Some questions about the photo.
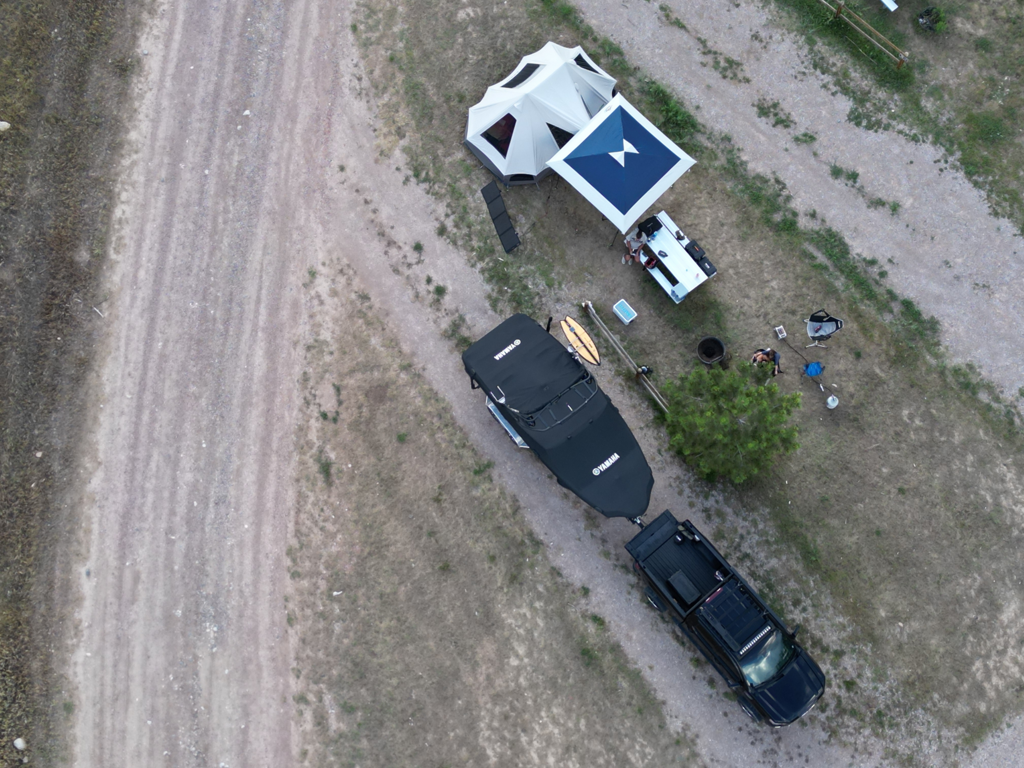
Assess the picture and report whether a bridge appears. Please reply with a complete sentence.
No, there appears to be no bridge in this shot.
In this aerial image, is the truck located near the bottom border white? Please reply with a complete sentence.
No, the color of the truck located near the bottom border is black.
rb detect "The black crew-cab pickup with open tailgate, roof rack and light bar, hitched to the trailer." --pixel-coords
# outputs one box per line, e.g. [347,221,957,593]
[625,509,827,736]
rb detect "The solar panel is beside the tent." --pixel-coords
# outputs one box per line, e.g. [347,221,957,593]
[481,181,520,252]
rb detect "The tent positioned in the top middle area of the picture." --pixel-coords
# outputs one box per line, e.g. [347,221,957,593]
[457,42,624,193]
